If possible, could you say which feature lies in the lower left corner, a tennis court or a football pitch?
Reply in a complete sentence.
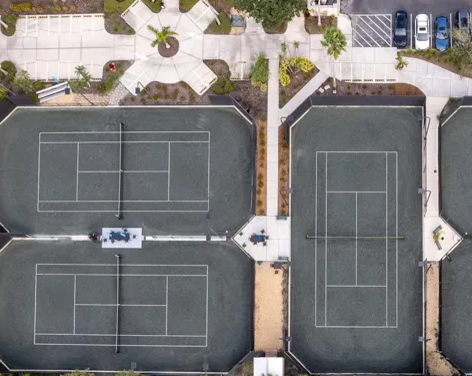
The one visible in the lower left corner is a tennis court.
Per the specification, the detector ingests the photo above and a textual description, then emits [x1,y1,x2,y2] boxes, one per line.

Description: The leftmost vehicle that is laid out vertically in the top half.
[393,14,409,48]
